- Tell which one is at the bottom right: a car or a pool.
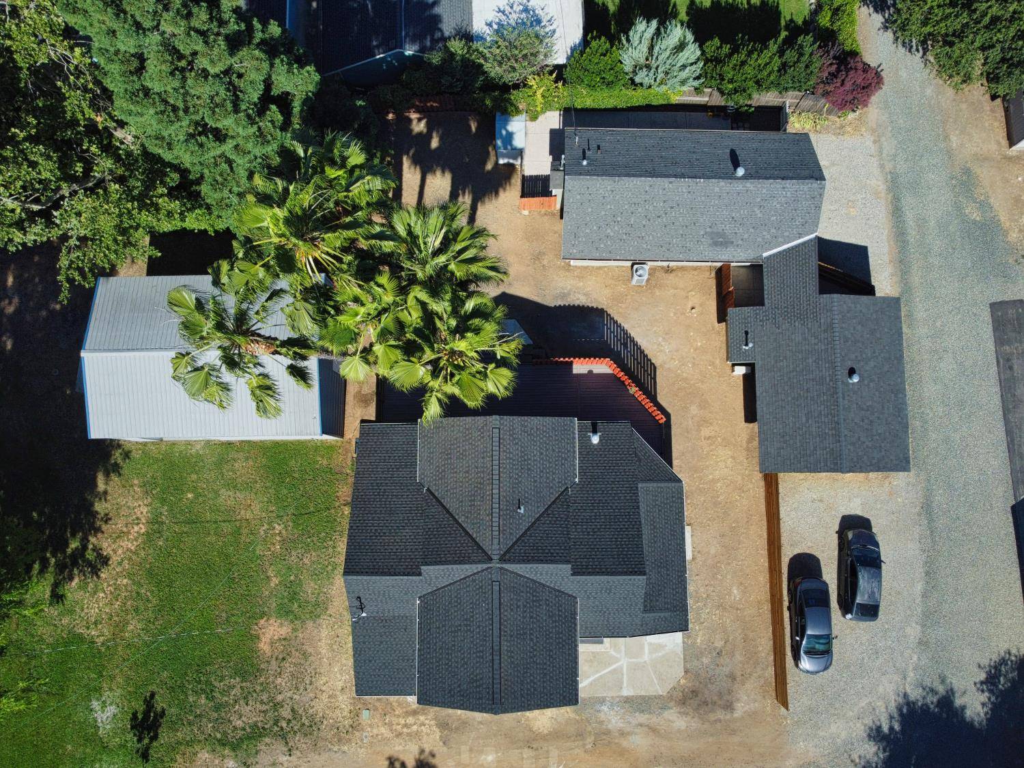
car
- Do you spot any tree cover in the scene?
Yes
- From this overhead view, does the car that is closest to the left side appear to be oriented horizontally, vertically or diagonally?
vertically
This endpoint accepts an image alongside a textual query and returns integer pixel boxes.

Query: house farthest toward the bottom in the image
[343,416,693,715]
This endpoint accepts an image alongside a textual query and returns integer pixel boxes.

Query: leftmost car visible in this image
[787,575,841,678]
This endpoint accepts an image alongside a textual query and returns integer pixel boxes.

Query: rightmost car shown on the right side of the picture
[837,528,890,624]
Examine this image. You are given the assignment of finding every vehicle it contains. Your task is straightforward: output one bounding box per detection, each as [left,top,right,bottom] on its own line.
[837,528,890,624]
[787,575,841,678]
